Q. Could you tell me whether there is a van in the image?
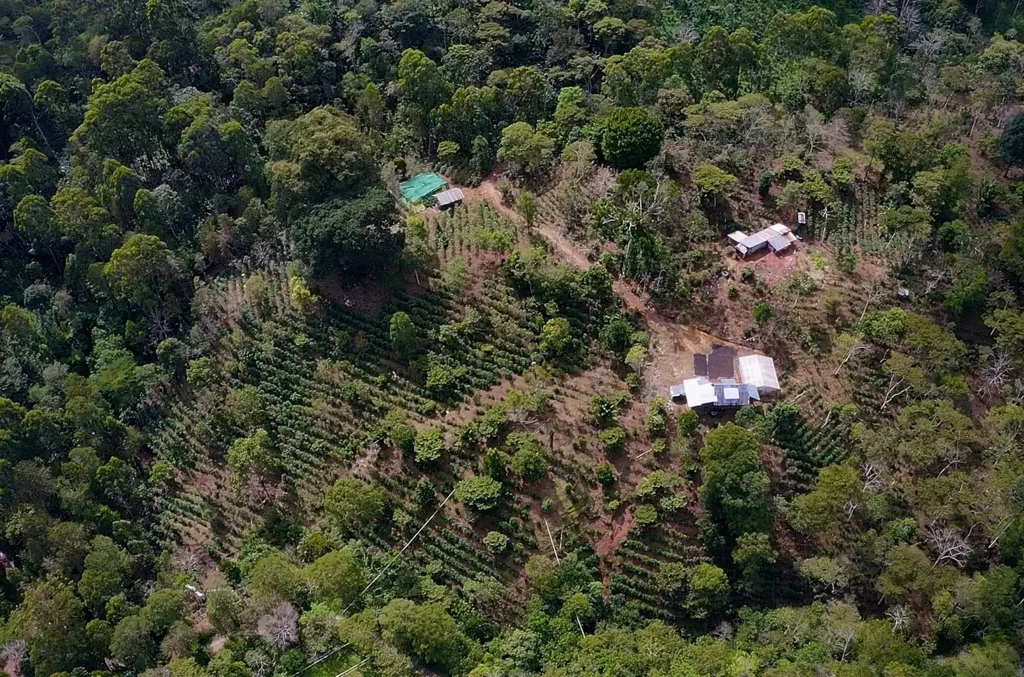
No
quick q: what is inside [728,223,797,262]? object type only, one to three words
house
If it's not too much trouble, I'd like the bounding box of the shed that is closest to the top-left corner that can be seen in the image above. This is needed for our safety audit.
[433,187,465,214]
